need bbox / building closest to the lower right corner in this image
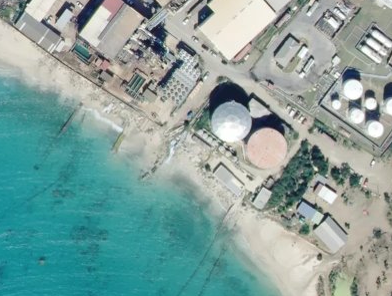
[313,214,351,254]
